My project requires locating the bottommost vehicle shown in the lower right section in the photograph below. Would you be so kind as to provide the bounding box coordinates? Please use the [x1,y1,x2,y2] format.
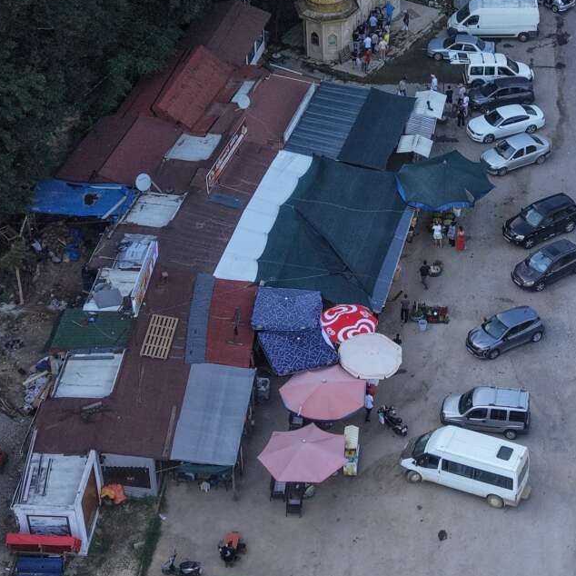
[396,421,535,509]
